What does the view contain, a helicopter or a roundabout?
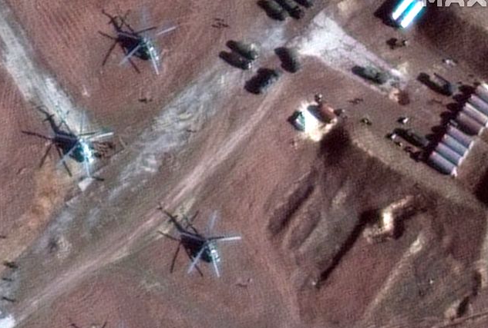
helicopter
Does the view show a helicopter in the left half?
Yes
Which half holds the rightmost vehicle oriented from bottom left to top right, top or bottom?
top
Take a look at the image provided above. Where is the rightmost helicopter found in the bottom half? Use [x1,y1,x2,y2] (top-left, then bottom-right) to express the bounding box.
[174,209,241,273]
